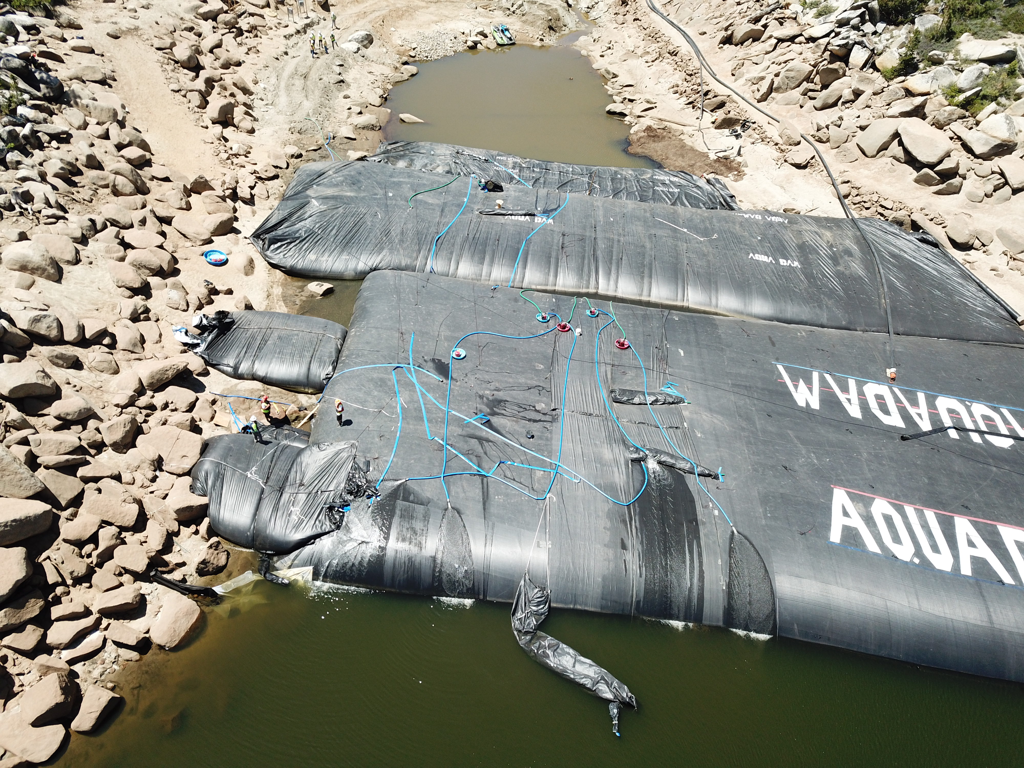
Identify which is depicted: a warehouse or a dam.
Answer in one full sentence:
Of the two, only a dam appears.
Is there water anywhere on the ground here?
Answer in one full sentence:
Yes, water can be seen from above here.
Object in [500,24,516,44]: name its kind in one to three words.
boat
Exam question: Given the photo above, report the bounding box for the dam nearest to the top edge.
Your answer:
[368,136,739,216]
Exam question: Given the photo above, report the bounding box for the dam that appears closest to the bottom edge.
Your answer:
[274,270,1024,684]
